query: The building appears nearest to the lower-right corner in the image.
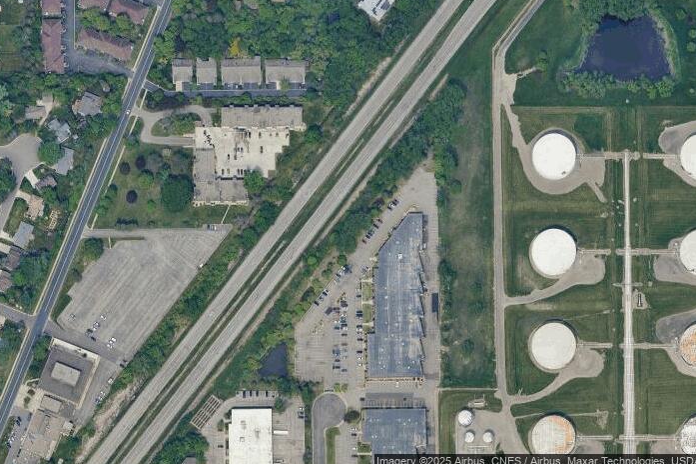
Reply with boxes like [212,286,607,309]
[365,408,428,464]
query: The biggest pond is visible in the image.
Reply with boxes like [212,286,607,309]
[582,15,672,81]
